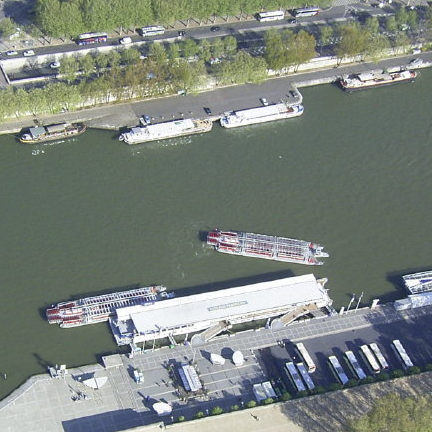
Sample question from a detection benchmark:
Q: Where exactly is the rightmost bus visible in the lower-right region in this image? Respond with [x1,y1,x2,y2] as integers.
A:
[390,340,414,372]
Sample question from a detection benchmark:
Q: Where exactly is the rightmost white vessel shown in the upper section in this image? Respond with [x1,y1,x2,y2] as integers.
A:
[337,69,417,91]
